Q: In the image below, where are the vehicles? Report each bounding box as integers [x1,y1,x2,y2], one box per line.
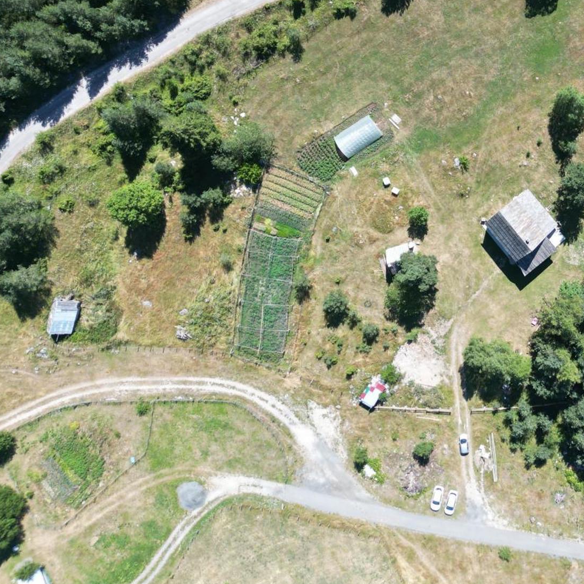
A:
[458,432,469,457]
[444,488,458,516]
[430,484,443,512]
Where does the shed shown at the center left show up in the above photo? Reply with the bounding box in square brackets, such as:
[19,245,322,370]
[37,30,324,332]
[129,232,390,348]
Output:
[47,299,87,341]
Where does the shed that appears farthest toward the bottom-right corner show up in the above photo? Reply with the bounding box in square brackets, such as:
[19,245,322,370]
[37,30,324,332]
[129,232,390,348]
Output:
[361,382,386,407]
